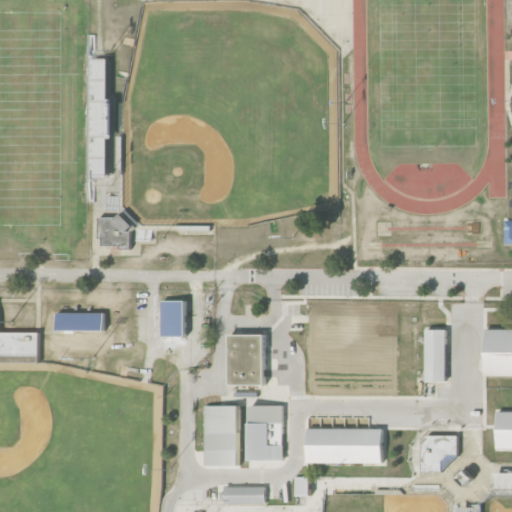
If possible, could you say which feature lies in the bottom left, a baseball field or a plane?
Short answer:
baseball field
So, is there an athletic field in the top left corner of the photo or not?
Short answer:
Yes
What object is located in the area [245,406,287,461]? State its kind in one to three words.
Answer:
building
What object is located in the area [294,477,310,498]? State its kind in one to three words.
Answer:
shed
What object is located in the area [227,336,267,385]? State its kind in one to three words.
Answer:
building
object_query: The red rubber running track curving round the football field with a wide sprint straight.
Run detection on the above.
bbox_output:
[353,0,506,214]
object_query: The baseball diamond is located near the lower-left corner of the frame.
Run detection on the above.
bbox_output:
[0,363,162,512]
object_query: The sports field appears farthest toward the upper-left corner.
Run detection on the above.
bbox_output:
[0,0,87,251]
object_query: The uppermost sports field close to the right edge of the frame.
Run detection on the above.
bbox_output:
[367,0,488,200]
